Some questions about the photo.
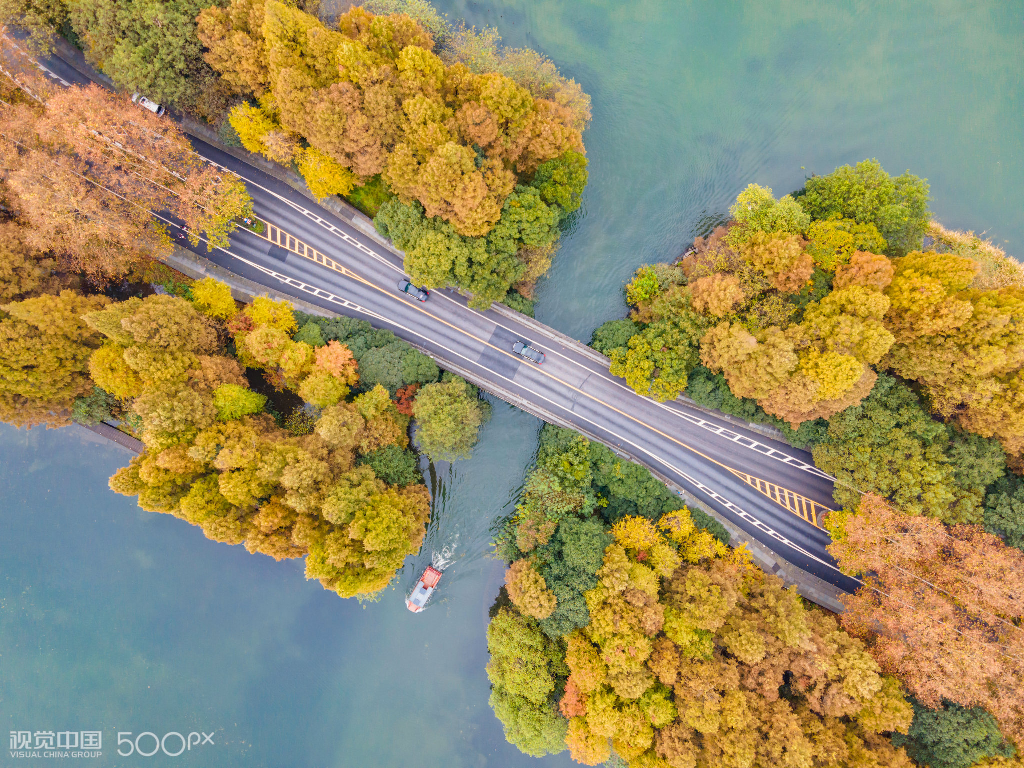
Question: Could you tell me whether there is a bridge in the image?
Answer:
Yes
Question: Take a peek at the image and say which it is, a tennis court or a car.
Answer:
car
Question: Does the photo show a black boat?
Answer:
No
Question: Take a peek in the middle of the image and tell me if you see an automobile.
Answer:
Yes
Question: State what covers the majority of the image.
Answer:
trees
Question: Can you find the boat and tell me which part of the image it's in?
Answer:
bottom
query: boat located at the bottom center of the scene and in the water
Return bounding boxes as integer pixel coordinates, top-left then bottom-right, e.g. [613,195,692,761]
[409,567,442,614]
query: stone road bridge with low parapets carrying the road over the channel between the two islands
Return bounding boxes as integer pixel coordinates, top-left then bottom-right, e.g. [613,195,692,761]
[436,298,619,459]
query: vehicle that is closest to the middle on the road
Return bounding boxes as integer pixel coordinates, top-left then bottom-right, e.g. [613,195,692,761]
[512,340,547,365]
